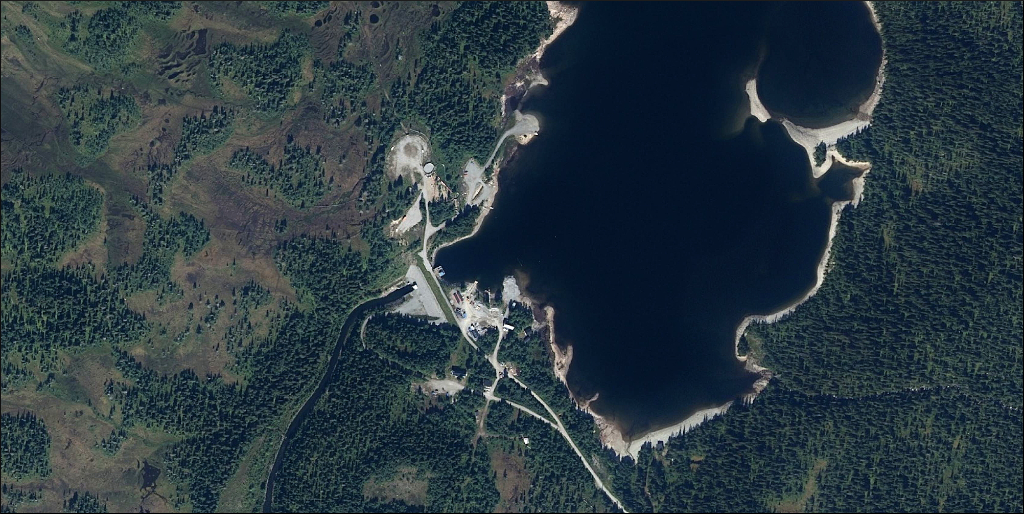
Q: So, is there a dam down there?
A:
Yes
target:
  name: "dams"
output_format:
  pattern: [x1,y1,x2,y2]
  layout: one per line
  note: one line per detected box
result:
[391,255,459,326]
